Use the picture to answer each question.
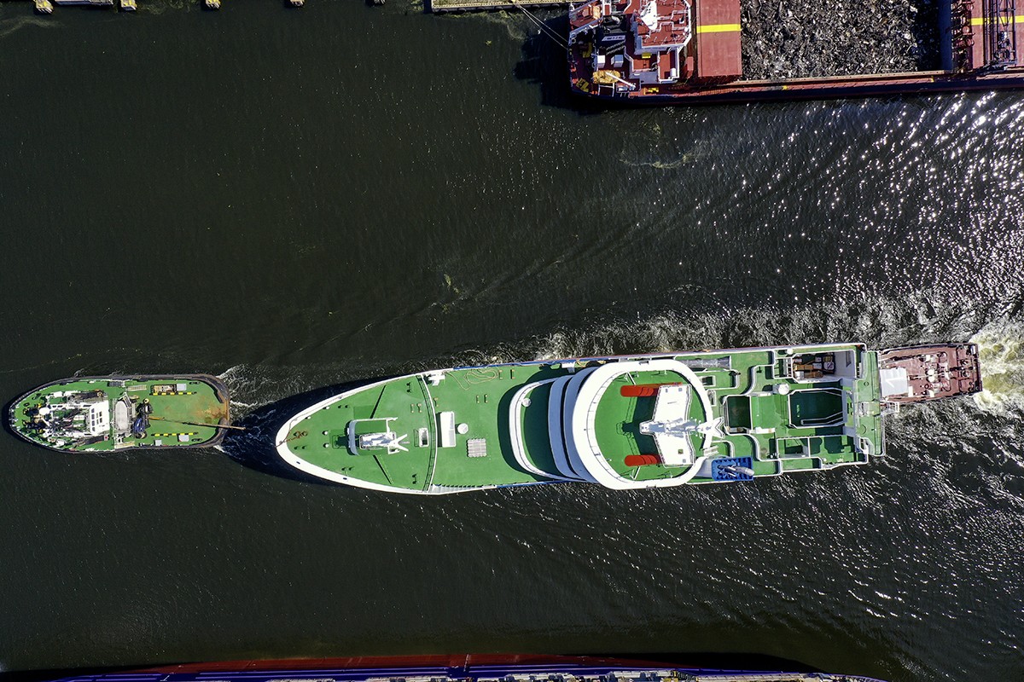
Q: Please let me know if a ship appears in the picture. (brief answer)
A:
Yes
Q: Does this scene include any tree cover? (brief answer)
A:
No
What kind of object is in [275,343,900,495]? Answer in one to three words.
ship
